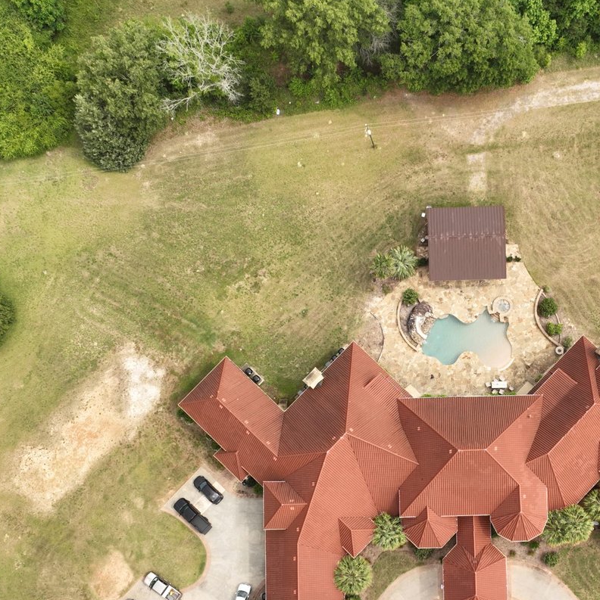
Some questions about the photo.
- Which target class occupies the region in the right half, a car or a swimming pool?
swimming pool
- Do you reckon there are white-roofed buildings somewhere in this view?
No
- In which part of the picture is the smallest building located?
right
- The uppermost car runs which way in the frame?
on a diagonal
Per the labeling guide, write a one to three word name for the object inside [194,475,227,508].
car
